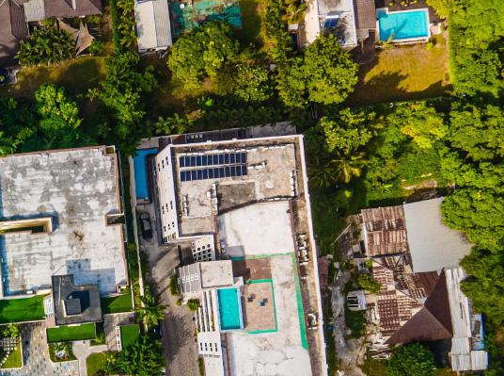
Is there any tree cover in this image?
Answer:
Yes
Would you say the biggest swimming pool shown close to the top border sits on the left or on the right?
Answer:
right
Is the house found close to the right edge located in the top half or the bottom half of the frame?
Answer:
bottom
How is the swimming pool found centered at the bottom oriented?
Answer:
vertically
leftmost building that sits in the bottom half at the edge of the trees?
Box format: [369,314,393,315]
[0,146,127,325]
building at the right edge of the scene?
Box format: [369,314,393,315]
[356,197,489,370]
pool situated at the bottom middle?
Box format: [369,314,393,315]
[219,289,240,329]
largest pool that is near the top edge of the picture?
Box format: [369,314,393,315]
[379,8,431,41]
